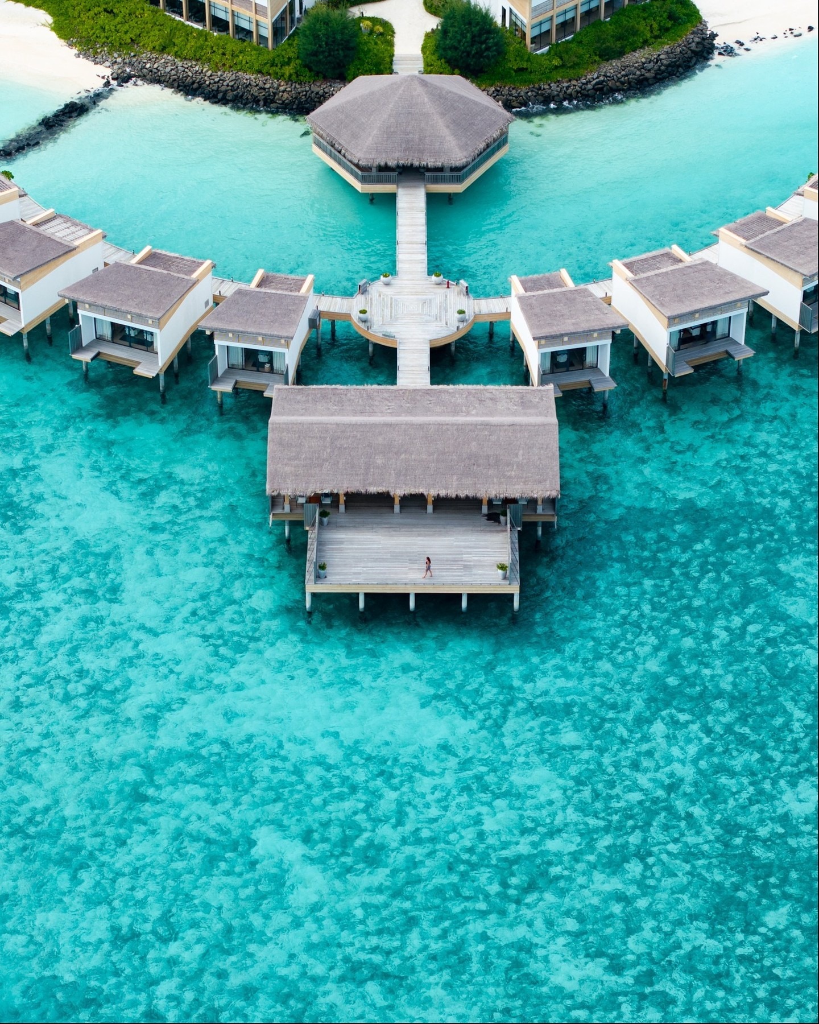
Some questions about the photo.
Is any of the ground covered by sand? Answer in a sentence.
Yes, there's sand in this view.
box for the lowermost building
[266,382,562,644]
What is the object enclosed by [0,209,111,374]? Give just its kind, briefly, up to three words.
house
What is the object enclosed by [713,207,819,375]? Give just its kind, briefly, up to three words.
house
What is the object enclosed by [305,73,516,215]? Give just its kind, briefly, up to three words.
building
